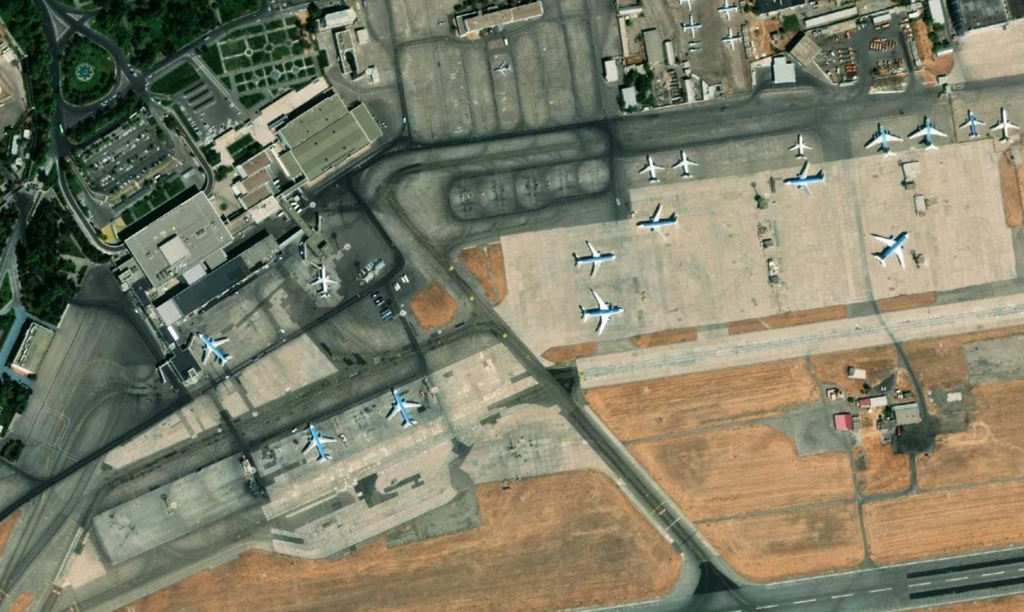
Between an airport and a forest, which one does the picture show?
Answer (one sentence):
This image shows an airport.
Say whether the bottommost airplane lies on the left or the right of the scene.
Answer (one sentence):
You can find the bottommost airplane on the left side of the picture.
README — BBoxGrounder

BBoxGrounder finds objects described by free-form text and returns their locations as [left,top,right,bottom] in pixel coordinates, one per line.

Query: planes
[303,425,336,463]
[870,231,908,269]
[574,241,615,277]
[581,291,624,334]
[637,204,680,239]
[913,119,948,149]
[684,15,701,37]
[993,108,1019,143]
[388,390,420,428]
[790,134,812,159]
[674,151,698,177]
[311,265,337,297]
[641,156,664,183]
[718,0,737,20]
[962,111,986,138]
[721,28,742,50]
[784,162,827,196]
[495,63,512,74]
[869,126,904,155]
[199,334,231,366]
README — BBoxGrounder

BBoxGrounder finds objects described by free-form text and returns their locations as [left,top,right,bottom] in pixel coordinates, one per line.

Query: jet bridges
[317,216,325,231]
[157,359,172,384]
[304,243,321,269]
[185,334,195,348]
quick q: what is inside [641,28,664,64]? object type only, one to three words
building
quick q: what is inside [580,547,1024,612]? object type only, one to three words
runway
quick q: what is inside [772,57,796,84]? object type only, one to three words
hangar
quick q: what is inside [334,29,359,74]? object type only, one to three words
building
